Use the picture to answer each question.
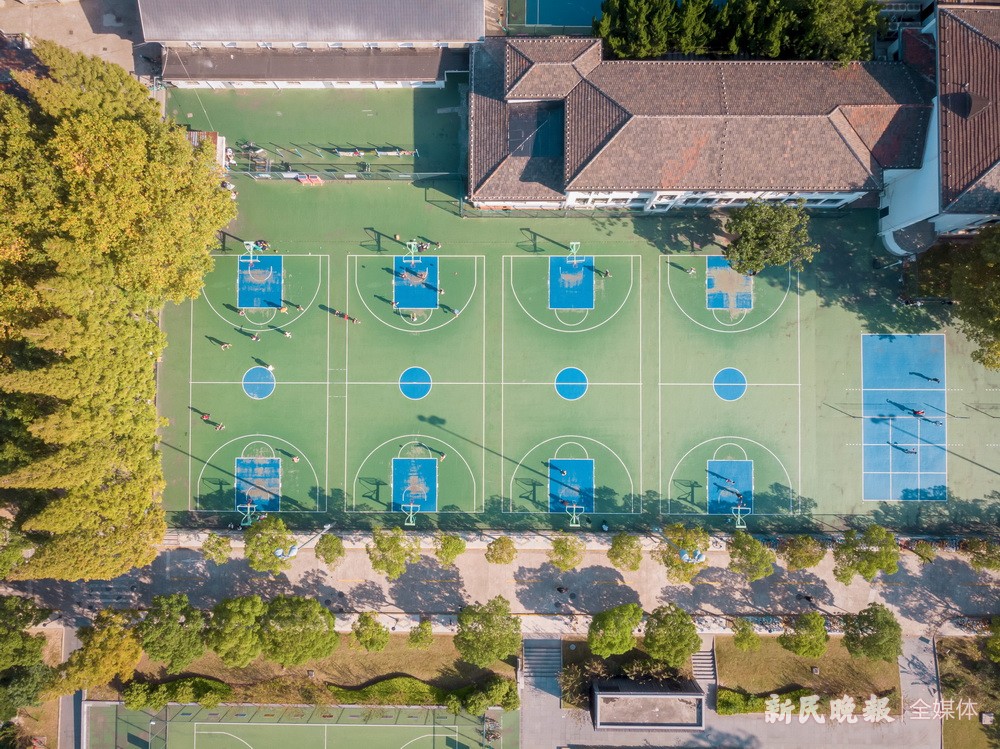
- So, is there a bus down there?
No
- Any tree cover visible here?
Yes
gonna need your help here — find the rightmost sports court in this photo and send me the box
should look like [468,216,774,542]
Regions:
[848,333,964,501]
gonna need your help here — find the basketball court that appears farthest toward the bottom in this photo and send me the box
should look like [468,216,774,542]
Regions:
[88,707,519,749]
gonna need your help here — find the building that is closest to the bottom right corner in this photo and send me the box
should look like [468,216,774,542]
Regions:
[593,680,704,729]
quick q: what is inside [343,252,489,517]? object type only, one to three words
basketball court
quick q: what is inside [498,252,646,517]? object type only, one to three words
basketball court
